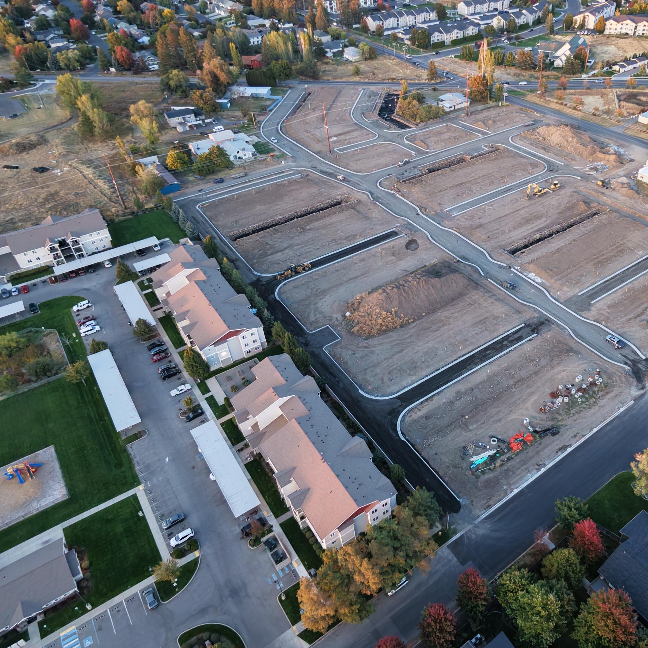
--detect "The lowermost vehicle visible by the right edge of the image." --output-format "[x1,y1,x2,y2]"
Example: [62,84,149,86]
[605,334,627,347]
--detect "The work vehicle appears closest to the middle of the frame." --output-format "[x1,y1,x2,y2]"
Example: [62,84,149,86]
[277,262,311,278]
